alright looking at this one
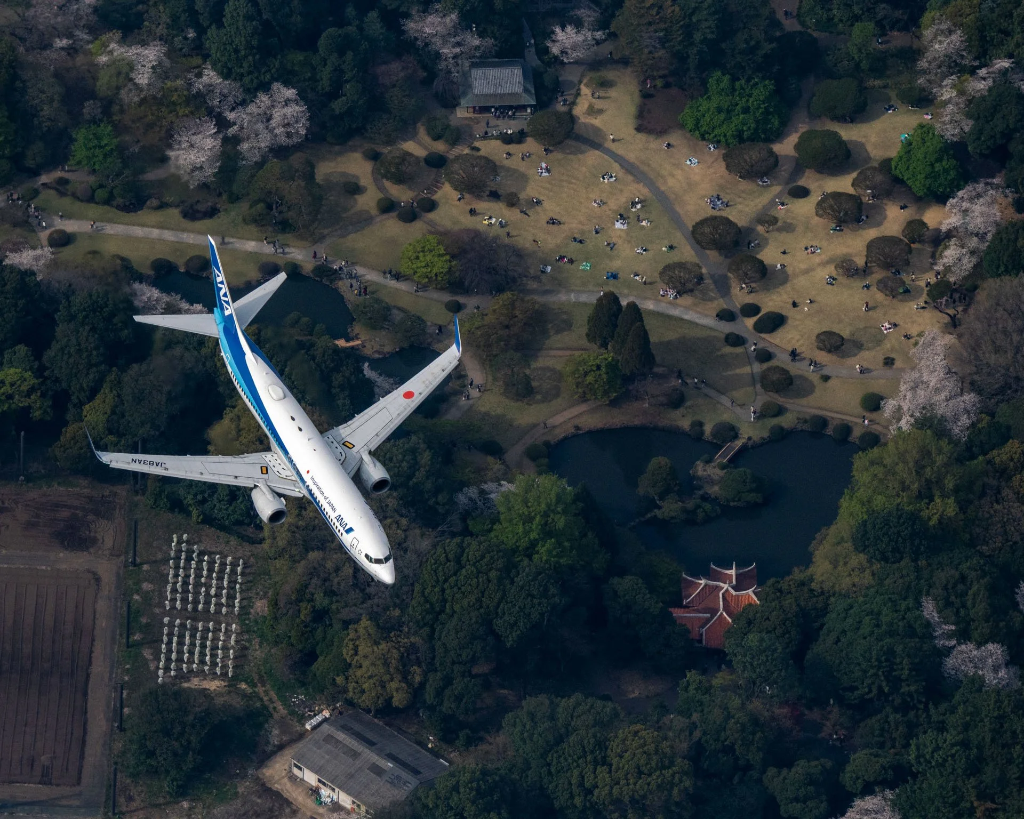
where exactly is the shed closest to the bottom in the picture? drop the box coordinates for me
[290,709,451,819]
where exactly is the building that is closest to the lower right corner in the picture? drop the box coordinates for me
[667,559,777,652]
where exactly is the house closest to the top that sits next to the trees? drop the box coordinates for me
[457,62,535,123]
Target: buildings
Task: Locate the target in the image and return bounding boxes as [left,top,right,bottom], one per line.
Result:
[290,709,451,819]
[667,559,777,652]
[457,62,535,123]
